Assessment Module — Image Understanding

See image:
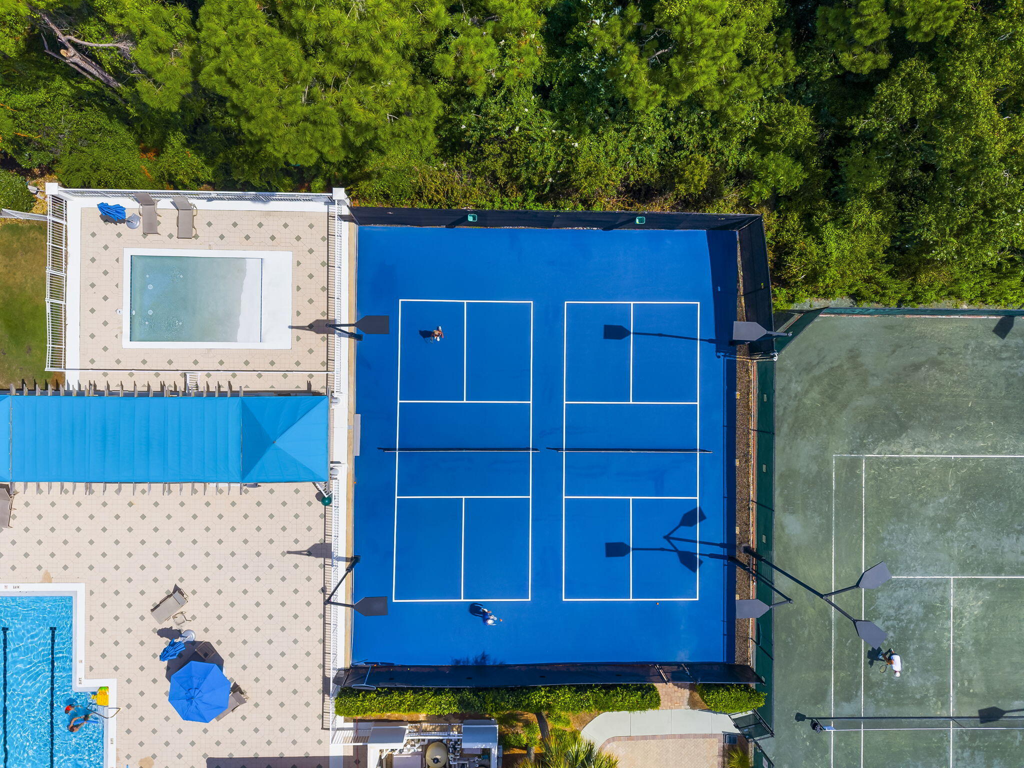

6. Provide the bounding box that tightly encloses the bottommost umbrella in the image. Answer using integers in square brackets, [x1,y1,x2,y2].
[168,661,231,723]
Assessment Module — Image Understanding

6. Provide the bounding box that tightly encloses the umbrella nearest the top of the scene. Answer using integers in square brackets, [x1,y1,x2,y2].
[101,204,140,229]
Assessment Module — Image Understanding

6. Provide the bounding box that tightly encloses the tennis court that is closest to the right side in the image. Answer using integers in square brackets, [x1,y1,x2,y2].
[754,297,1024,768]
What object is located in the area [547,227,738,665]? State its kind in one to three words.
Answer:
sports court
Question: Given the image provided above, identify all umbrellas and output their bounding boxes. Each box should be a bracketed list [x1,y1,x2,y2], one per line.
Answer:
[162,628,195,659]
[101,204,140,229]
[168,661,231,723]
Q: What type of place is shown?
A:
sports ground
